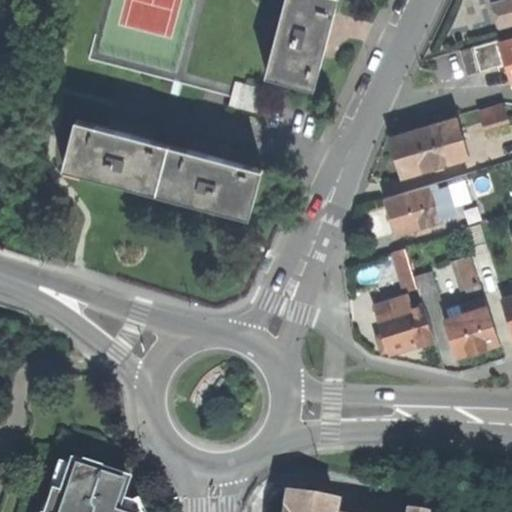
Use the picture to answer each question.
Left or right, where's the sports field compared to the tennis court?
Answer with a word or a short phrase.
right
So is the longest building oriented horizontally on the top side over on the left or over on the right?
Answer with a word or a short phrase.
left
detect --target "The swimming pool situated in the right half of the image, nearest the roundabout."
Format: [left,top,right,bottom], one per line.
[356,266,382,284]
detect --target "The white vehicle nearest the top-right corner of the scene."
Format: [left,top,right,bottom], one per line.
[449,54,464,80]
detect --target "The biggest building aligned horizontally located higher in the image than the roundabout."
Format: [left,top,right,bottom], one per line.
[60,124,262,222]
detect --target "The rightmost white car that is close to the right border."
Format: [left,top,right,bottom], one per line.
[483,267,496,291]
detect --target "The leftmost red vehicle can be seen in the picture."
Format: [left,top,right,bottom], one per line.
[308,196,322,218]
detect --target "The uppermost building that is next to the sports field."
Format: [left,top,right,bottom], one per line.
[264,0,338,96]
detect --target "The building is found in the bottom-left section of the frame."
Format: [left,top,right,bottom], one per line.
[42,456,144,512]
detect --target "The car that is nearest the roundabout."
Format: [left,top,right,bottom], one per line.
[272,268,285,290]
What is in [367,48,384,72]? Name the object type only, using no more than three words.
vehicle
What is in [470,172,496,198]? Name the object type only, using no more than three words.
swimming pool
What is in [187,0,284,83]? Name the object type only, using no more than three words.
sports field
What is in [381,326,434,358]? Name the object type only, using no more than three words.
house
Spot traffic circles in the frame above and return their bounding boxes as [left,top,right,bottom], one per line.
[144,326,290,472]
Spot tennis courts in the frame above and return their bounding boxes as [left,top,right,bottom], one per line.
[100,0,191,73]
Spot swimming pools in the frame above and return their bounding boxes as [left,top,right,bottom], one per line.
[356,266,382,284]
[470,172,496,198]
